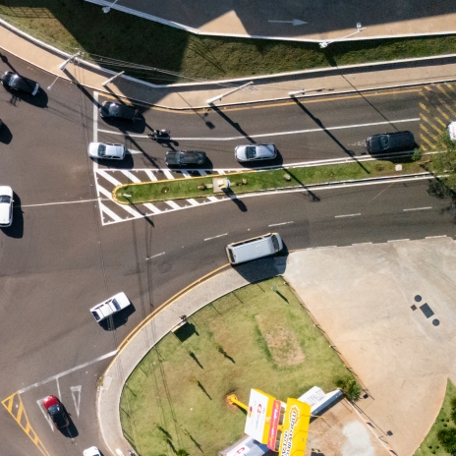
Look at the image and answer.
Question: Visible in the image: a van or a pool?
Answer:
van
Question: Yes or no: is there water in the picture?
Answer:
No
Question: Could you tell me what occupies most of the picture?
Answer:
paved ground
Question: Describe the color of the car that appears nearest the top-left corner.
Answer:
black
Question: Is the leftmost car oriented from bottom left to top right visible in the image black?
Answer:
No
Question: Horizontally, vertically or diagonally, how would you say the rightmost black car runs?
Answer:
horizontally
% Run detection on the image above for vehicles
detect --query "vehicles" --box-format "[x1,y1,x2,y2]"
[88,140,128,162]
[38,393,73,434]
[0,69,45,100]
[99,97,145,122]
[89,290,131,324]
[0,185,15,227]
[364,130,419,155]
[165,147,213,170]
[81,443,102,456]
[223,231,286,264]
[150,132,170,139]
[234,143,279,165]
